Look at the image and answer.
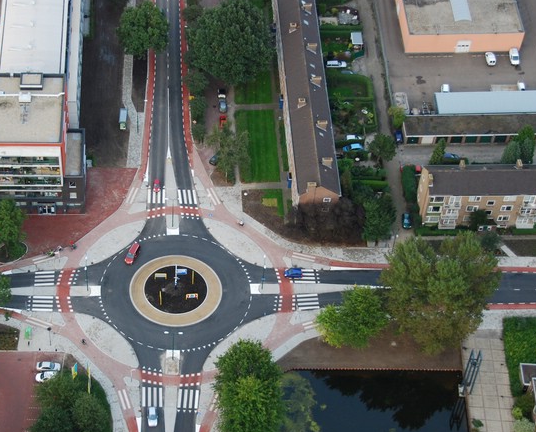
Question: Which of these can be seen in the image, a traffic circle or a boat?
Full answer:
It is a traffic circle that can be seen here.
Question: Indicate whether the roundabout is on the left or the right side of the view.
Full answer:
The roundabout sits on the left side.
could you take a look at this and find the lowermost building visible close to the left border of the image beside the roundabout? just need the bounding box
[0,72,86,214]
